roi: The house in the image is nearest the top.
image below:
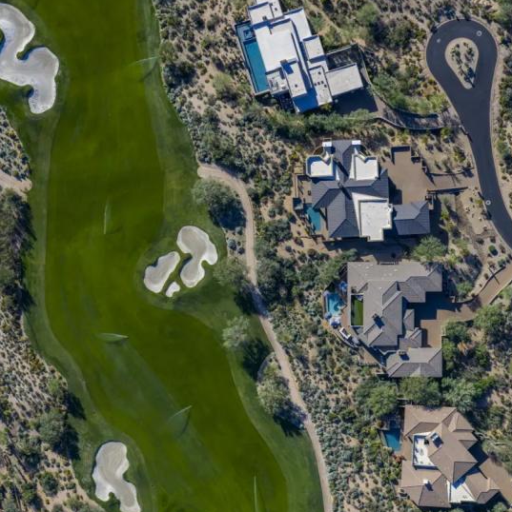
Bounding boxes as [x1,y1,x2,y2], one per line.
[248,0,364,114]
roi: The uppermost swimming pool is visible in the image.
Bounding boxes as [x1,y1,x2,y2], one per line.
[234,19,257,42]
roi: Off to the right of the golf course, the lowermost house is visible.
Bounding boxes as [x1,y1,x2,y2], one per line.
[400,405,500,509]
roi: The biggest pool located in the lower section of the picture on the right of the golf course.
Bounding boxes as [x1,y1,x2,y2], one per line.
[383,425,402,455]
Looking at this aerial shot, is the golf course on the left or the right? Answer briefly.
left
